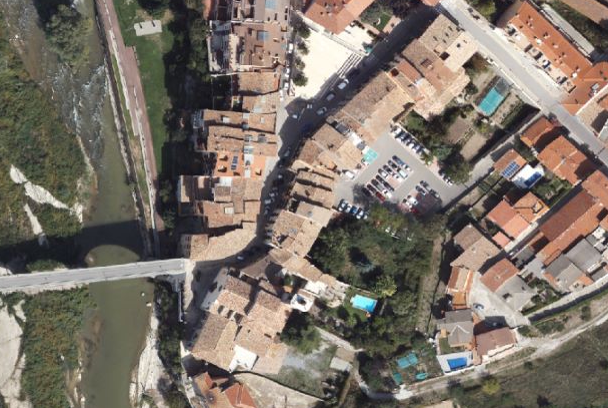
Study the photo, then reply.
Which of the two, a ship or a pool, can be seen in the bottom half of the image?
pool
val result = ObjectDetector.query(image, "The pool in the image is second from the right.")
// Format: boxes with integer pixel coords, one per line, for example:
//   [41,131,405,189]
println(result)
[438,351,474,373]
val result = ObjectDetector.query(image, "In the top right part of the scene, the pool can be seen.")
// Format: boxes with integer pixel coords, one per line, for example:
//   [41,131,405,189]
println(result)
[478,82,509,116]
